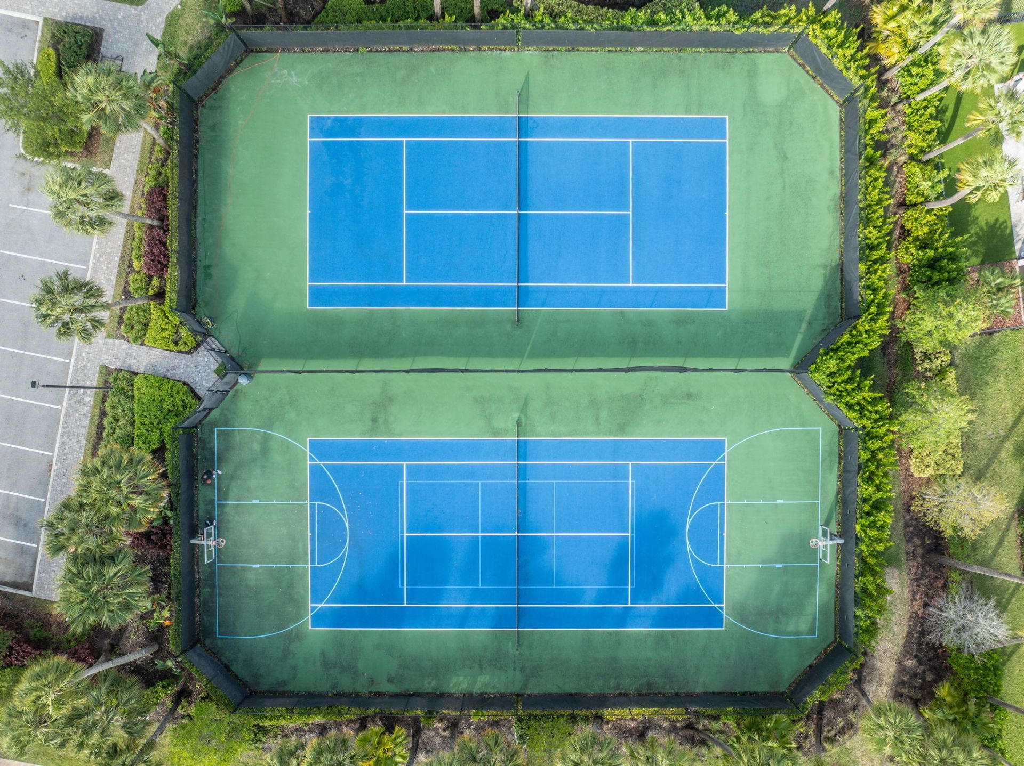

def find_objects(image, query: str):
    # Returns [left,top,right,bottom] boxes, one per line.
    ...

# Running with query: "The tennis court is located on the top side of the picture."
[196,51,841,370]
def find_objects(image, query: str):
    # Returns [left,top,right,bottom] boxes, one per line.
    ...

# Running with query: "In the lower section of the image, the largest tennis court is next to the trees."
[198,371,839,694]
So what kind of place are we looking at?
sports ground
